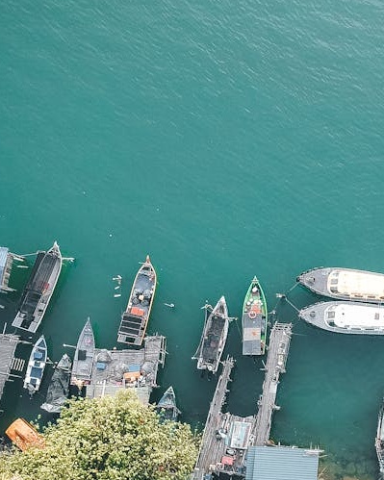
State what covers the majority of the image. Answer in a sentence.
Most of the picture is covered by water.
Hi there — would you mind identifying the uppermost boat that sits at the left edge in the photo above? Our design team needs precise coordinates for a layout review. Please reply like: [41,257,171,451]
[15,239,59,332]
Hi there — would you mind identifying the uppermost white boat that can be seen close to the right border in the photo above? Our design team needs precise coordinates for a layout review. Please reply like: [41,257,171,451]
[297,268,384,304]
